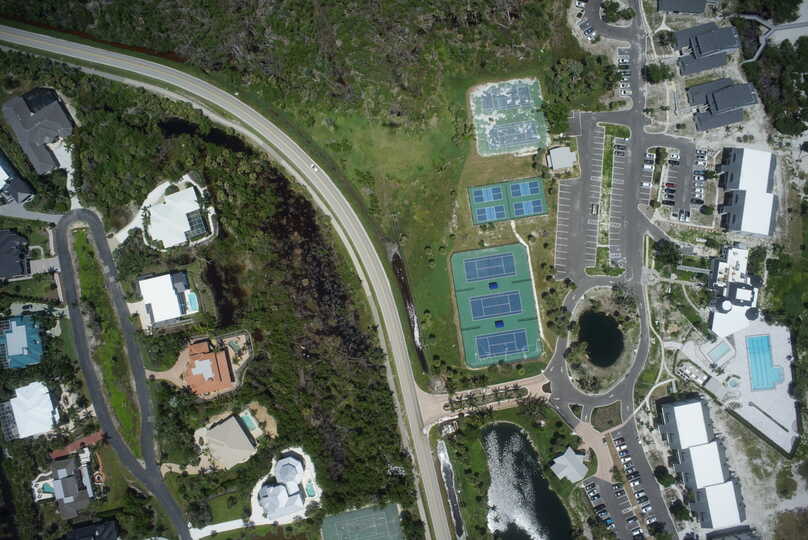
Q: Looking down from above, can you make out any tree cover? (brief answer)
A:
Yes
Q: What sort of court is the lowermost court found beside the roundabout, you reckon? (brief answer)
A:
tennis court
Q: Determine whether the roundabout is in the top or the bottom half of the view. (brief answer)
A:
bottom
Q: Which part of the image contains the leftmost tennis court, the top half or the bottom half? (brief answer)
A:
bottom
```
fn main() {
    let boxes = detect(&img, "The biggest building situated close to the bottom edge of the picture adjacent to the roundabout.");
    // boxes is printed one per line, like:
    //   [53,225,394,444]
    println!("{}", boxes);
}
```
[652,395,746,529]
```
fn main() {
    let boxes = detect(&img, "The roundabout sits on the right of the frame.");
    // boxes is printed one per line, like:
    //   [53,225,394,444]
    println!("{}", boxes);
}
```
[542,282,649,432]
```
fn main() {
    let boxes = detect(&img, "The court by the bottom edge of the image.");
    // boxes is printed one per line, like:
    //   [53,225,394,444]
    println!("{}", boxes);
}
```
[324,504,402,540]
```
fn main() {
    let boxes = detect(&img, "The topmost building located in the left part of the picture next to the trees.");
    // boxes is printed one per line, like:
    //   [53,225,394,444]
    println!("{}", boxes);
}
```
[6,88,78,174]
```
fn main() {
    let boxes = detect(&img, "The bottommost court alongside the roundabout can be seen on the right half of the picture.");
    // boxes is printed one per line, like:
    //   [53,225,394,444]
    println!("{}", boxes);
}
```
[462,318,544,368]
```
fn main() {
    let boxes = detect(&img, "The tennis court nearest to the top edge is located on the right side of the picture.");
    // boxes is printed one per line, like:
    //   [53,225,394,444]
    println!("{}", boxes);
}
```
[470,78,545,121]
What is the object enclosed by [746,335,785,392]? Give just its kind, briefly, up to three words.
swimming pool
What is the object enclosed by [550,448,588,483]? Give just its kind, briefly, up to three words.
building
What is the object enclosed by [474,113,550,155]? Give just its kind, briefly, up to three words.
tennis court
